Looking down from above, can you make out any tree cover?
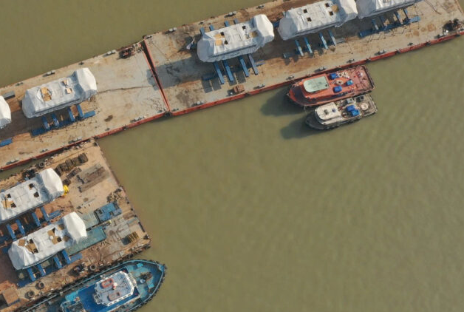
No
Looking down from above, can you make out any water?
Yes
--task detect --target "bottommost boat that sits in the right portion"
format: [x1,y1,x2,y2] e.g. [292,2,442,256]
[304,95,377,131]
